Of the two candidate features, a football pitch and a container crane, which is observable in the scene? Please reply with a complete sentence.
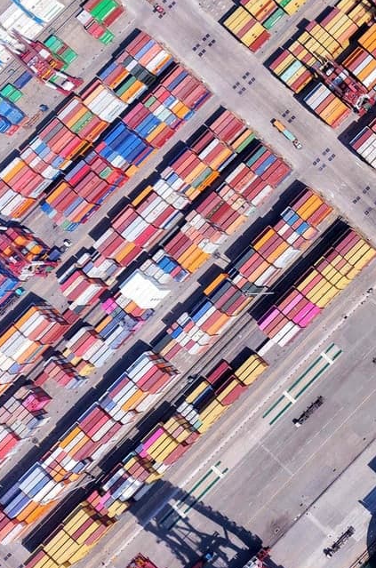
It is a container crane that can be seen here.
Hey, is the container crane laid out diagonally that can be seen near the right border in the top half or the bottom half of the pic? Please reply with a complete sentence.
It is in the top half that the container crane laid out diagonally that can be seen near the right border appears.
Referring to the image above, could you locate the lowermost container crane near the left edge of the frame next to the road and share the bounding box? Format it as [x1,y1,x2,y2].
[0,212,74,289]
